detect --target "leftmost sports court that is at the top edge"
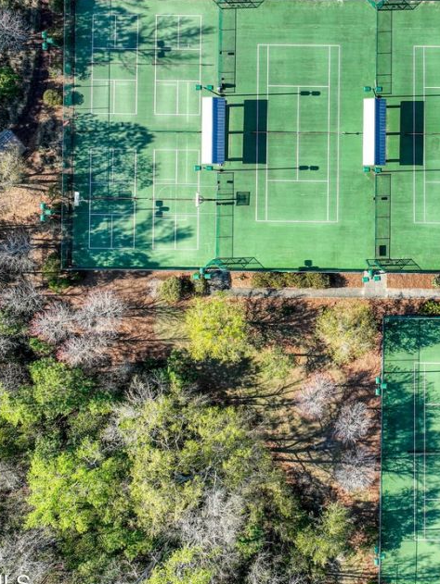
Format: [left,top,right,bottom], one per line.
[73,0,146,131]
